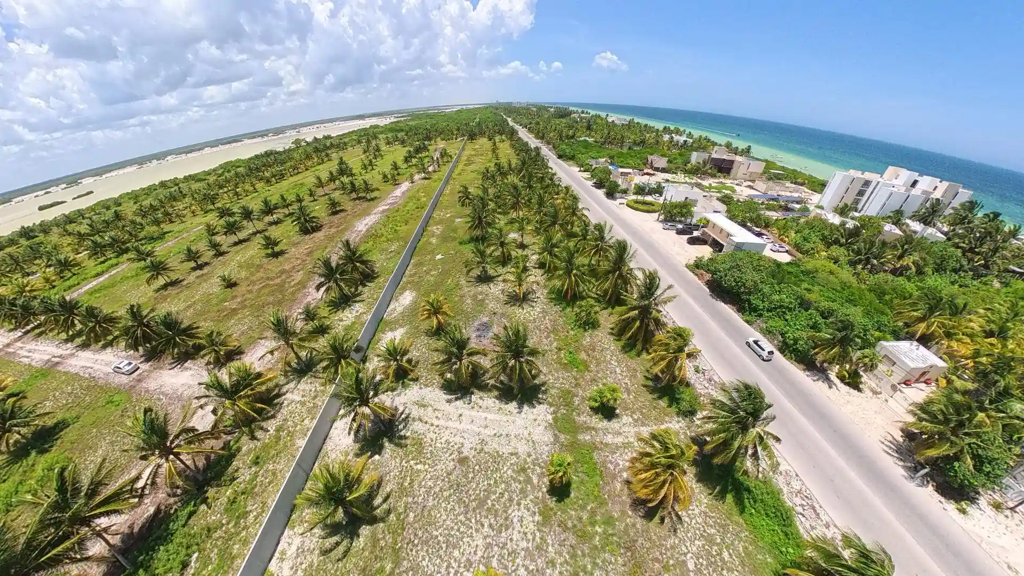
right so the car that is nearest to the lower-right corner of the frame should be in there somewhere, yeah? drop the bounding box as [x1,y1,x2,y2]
[748,337,779,362]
